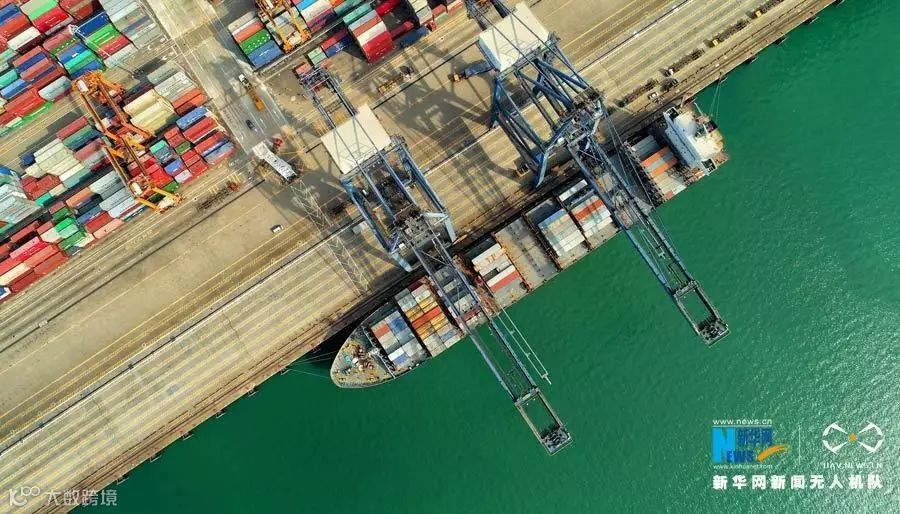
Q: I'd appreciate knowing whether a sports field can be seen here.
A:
No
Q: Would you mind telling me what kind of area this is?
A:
port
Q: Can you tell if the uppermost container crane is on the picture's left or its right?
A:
left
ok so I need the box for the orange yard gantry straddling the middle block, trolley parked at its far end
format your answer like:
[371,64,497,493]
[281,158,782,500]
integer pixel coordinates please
[60,67,156,157]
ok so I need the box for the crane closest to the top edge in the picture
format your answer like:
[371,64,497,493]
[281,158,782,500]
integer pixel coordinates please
[252,0,312,54]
